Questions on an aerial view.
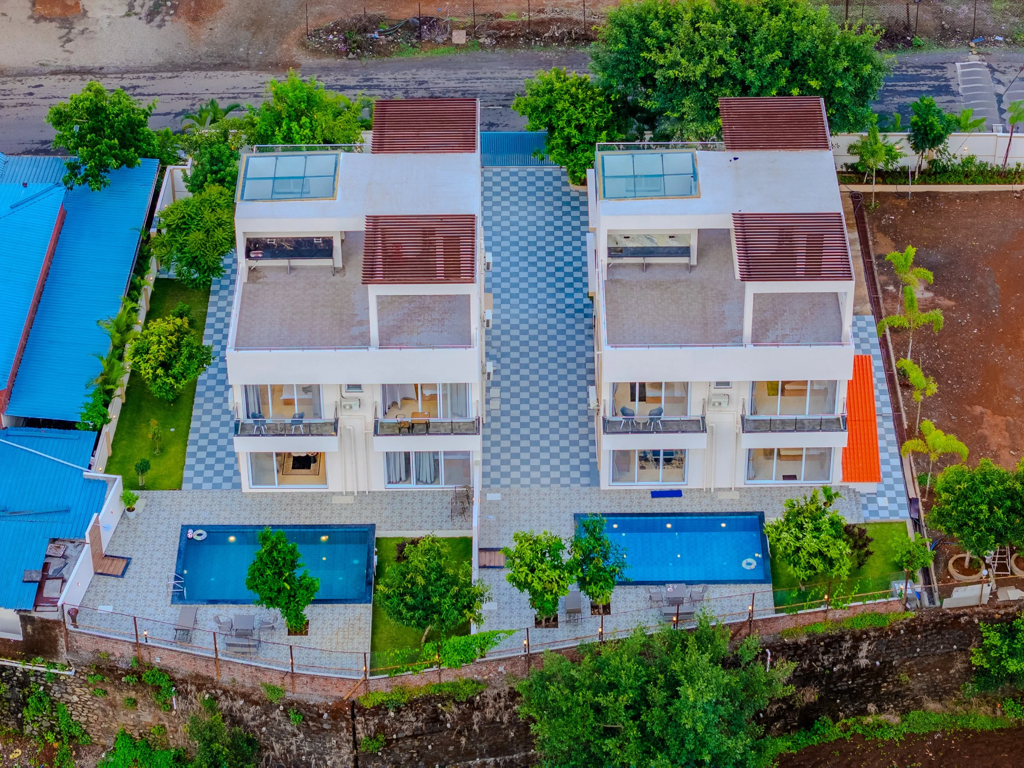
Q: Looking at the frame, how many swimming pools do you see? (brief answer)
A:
2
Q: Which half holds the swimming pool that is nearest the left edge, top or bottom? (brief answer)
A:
bottom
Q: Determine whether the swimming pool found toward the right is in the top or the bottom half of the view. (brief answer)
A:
bottom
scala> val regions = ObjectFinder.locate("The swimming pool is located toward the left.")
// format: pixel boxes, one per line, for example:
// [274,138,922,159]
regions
[171,523,376,606]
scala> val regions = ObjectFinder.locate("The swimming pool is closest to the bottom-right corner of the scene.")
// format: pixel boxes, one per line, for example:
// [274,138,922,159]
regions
[574,511,772,585]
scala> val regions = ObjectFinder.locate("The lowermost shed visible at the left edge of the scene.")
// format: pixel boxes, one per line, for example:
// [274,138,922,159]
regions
[0,411,107,665]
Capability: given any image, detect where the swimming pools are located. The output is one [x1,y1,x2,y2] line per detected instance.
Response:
[574,511,772,585]
[171,523,376,606]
